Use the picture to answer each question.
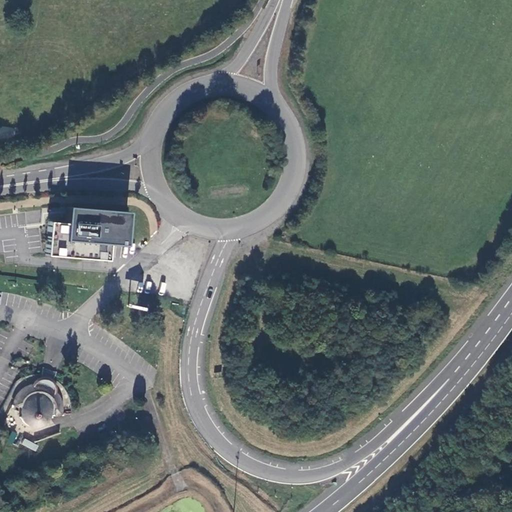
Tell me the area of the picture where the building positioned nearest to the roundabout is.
left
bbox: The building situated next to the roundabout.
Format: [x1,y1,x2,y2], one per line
[46,208,134,261]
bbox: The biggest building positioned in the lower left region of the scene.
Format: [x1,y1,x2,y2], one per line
[2,376,71,443]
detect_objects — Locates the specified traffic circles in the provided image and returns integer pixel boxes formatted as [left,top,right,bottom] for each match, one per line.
[131,72,308,243]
